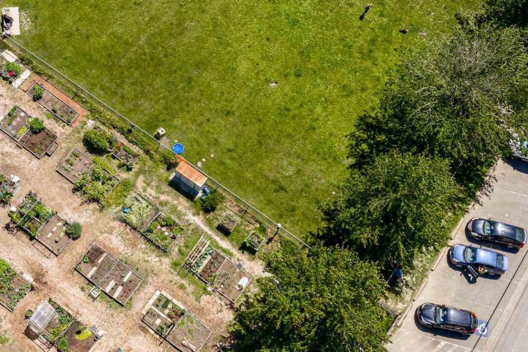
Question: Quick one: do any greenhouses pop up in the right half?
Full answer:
No, the scene shows no greenhouse in the right half.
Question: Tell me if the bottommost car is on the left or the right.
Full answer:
The bottommost car is on the right side of the image.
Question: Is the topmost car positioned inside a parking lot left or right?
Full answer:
The topmost car positioned inside a parking lot is on the right side of the image.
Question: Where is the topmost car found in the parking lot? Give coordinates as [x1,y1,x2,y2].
[465,216,527,250]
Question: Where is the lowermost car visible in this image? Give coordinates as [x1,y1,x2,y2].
[416,299,480,337]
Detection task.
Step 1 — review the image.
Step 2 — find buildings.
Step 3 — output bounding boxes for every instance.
[174,160,209,194]
[23,300,61,342]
